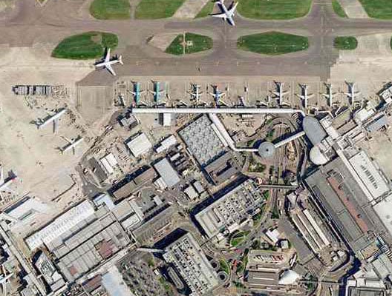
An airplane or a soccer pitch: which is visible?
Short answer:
airplane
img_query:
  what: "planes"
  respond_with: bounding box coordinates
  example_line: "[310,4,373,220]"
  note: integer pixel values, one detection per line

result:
[95,50,125,75]
[213,0,240,26]
[190,84,205,107]
[0,170,19,197]
[344,82,362,106]
[149,82,166,104]
[209,84,225,106]
[271,83,289,105]
[298,85,315,108]
[322,83,339,106]
[59,138,83,156]
[35,107,68,132]
[129,83,145,104]
[0,275,13,296]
